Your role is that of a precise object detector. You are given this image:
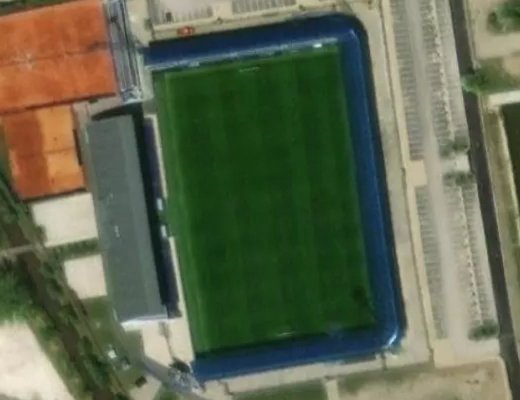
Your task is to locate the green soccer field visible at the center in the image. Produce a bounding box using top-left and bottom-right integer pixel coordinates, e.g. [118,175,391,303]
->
[150,44,375,356]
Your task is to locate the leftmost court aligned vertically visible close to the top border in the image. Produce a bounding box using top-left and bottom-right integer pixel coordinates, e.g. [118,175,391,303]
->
[0,13,30,110]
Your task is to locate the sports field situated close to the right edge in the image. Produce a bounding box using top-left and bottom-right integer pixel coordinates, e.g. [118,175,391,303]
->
[494,93,520,288]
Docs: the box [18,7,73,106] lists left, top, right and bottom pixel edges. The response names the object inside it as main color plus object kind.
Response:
orange tennis court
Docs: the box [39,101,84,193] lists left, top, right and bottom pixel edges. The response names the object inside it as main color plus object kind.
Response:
orange tennis court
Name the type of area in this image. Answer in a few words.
sports ground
